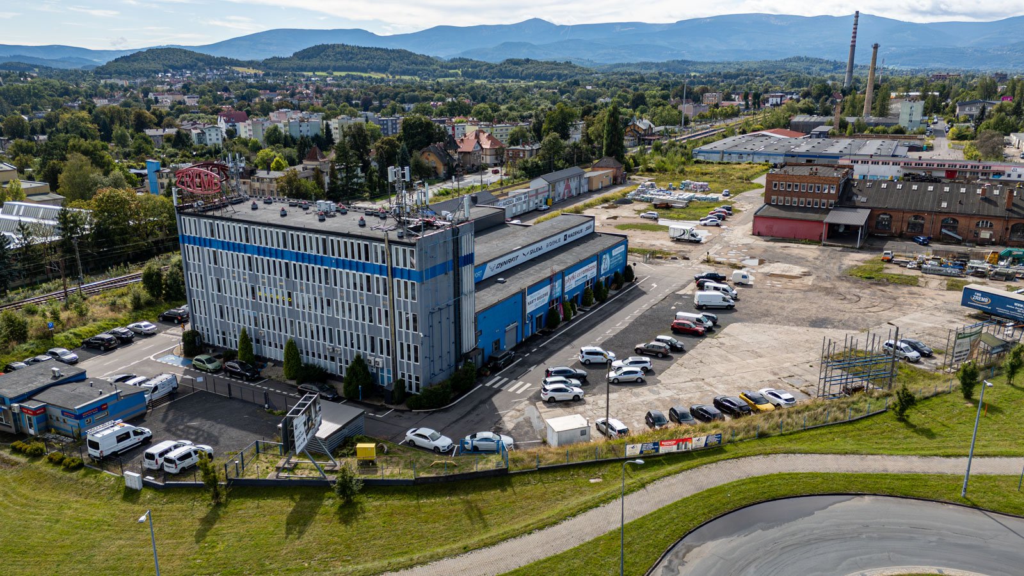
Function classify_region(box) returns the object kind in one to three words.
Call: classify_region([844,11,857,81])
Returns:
chimney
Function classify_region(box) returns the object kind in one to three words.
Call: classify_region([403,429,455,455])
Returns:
car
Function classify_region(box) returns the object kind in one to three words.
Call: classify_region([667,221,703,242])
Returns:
truck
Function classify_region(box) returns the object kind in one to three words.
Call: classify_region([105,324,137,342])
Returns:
car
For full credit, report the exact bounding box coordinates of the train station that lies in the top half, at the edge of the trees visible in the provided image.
[621,110,684,150]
